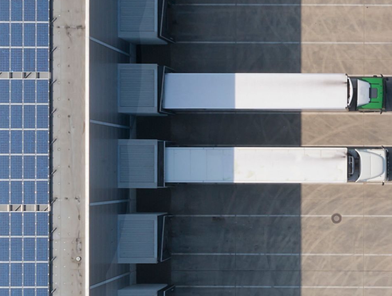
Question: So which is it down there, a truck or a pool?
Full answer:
Looking from above, you can make out a truck.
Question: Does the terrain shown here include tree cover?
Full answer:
No, tree cover can't be seen anywhere here.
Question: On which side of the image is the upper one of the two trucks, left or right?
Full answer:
The upper one of the two trucks sits on the right side.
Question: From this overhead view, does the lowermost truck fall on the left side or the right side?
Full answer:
The lowermost truck is on the right side of the image.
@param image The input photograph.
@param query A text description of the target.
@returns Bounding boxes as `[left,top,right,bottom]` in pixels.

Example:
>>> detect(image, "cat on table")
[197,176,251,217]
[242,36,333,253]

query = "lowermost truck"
[165,143,391,187]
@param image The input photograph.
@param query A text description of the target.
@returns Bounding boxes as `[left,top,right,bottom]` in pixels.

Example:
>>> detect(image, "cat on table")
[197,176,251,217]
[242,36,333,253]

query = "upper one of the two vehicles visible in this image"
[165,70,391,114]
